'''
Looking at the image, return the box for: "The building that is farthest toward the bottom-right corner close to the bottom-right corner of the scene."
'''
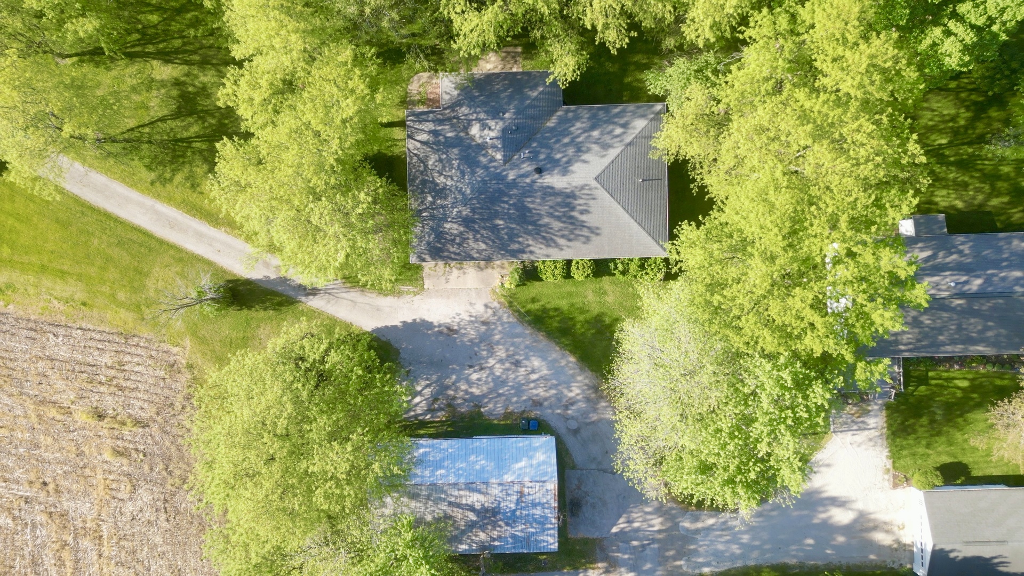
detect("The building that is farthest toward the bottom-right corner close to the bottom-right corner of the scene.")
[912,483,1024,576]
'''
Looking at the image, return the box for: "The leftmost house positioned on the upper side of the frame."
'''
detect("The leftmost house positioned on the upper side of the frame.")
[405,69,670,264]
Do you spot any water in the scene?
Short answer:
No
